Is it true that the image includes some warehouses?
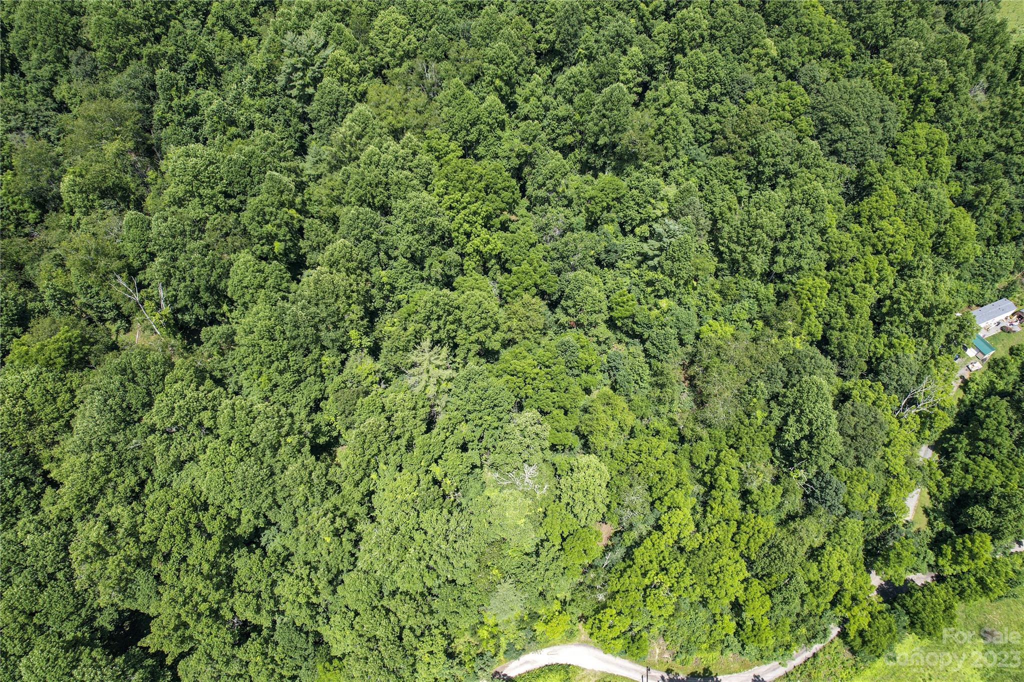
No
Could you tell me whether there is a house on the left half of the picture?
No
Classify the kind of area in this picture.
forest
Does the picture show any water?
No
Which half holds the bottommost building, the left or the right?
right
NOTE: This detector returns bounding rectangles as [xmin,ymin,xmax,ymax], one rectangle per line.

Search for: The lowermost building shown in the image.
[969,335,995,359]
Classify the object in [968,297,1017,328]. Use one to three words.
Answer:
house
